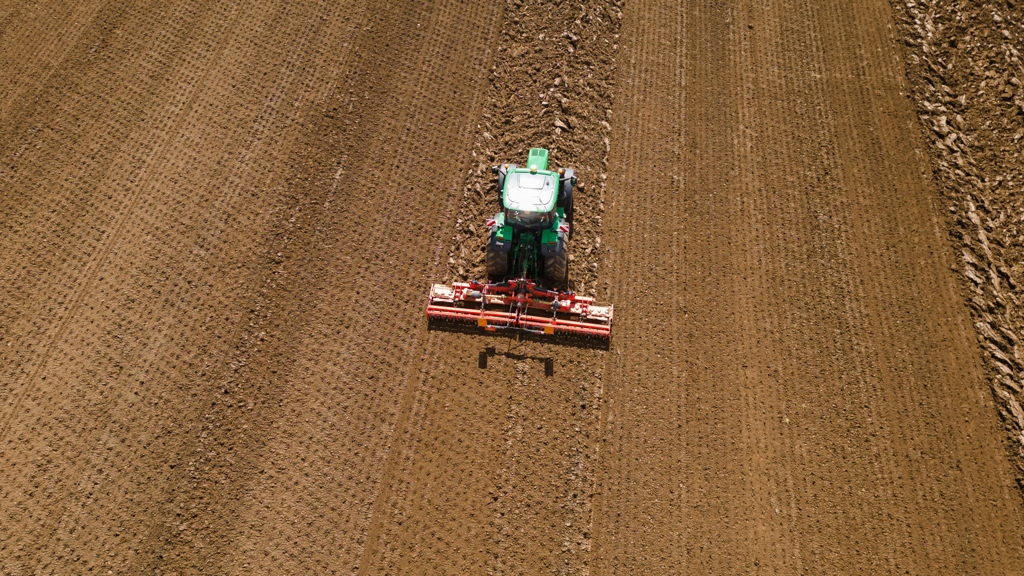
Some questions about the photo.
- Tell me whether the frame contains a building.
No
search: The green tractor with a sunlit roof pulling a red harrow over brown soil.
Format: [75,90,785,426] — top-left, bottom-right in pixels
[484,147,576,282]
